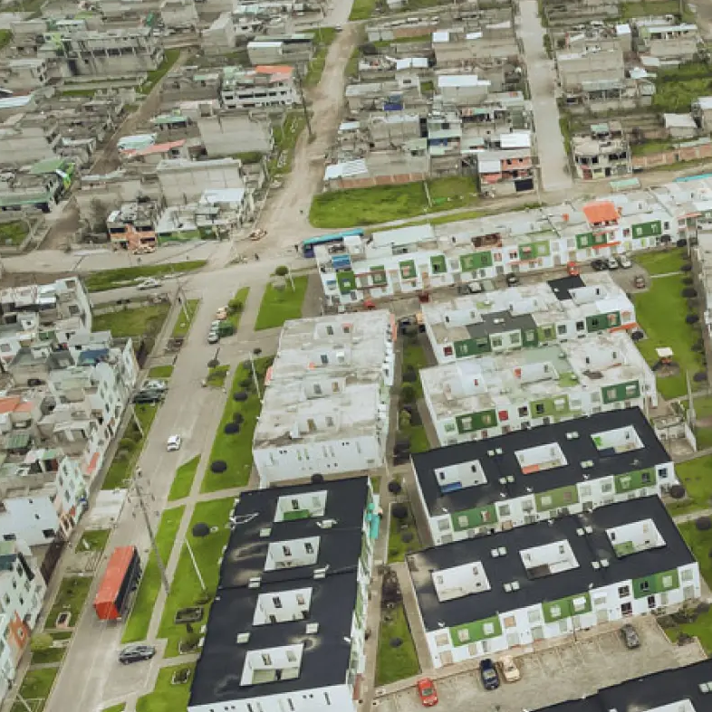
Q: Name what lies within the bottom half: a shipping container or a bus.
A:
bus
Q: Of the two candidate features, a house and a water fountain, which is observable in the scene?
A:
house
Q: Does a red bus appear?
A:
Yes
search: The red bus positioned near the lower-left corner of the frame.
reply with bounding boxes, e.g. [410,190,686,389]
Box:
[92,553,136,625]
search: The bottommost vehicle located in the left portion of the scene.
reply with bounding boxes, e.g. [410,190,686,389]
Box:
[118,645,153,663]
